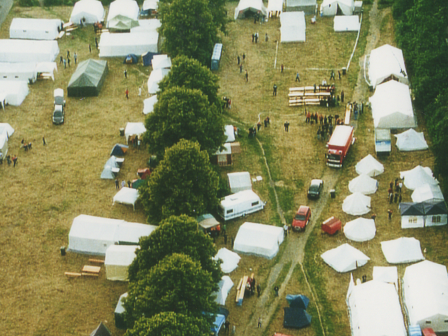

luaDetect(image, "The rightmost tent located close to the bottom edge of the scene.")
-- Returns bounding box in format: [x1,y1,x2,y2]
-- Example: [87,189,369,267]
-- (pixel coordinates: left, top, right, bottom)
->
[400,259,448,332]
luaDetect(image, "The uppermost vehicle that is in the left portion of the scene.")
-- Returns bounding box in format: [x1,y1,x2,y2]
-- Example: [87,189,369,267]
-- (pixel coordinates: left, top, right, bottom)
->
[52,87,65,106]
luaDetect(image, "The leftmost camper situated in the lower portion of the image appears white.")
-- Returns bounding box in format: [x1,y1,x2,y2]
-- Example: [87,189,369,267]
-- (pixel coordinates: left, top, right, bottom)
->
[223,193,269,218]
